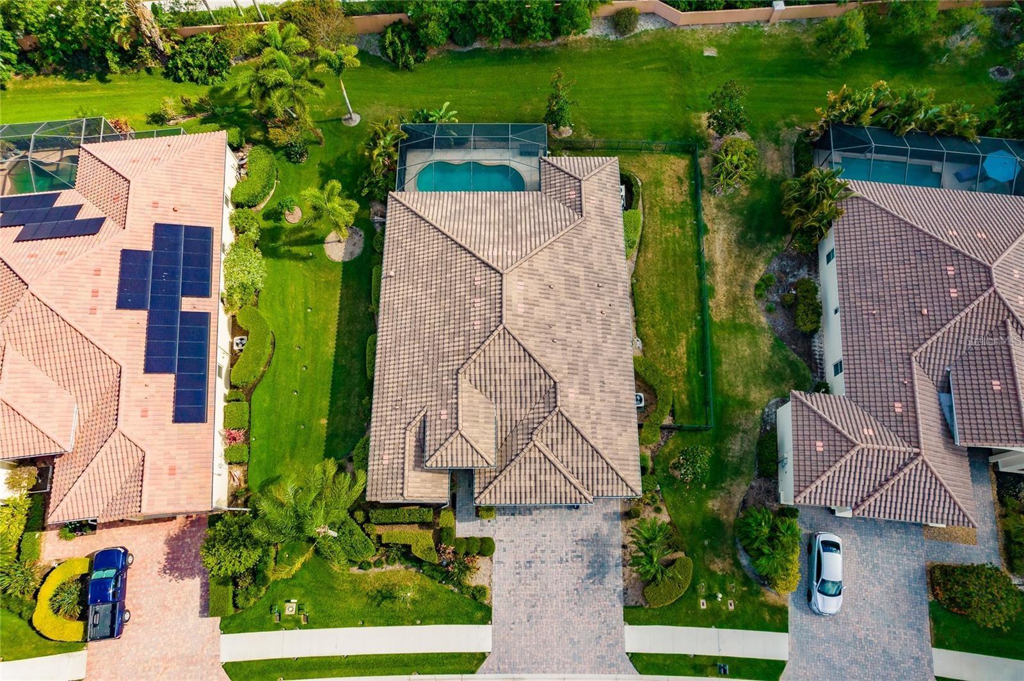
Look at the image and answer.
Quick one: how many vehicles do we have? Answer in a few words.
2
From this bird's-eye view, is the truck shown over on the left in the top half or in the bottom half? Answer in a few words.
bottom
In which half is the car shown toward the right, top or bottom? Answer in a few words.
bottom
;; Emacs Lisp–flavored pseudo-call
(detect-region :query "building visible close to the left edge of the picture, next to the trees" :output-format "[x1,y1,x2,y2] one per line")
[0,130,238,529]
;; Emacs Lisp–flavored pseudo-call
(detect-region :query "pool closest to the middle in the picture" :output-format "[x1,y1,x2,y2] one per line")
[412,157,529,191]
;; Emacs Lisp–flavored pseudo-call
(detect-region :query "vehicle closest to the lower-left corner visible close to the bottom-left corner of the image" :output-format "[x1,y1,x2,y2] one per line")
[87,547,136,646]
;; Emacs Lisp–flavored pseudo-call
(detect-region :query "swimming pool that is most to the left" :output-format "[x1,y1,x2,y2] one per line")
[1,154,78,195]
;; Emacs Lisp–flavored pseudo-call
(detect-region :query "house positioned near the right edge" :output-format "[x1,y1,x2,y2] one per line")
[778,180,1024,527]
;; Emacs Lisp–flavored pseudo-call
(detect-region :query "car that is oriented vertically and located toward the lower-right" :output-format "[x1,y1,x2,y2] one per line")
[810,534,851,618]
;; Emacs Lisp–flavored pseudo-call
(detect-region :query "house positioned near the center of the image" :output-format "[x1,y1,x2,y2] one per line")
[365,156,642,505]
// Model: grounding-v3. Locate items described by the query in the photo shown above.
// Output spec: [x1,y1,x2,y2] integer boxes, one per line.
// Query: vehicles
[810,534,851,618]
[87,547,136,646]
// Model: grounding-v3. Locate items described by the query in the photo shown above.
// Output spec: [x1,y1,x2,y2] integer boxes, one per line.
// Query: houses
[778,180,1024,527]
[365,156,642,505]
[0,130,238,529]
